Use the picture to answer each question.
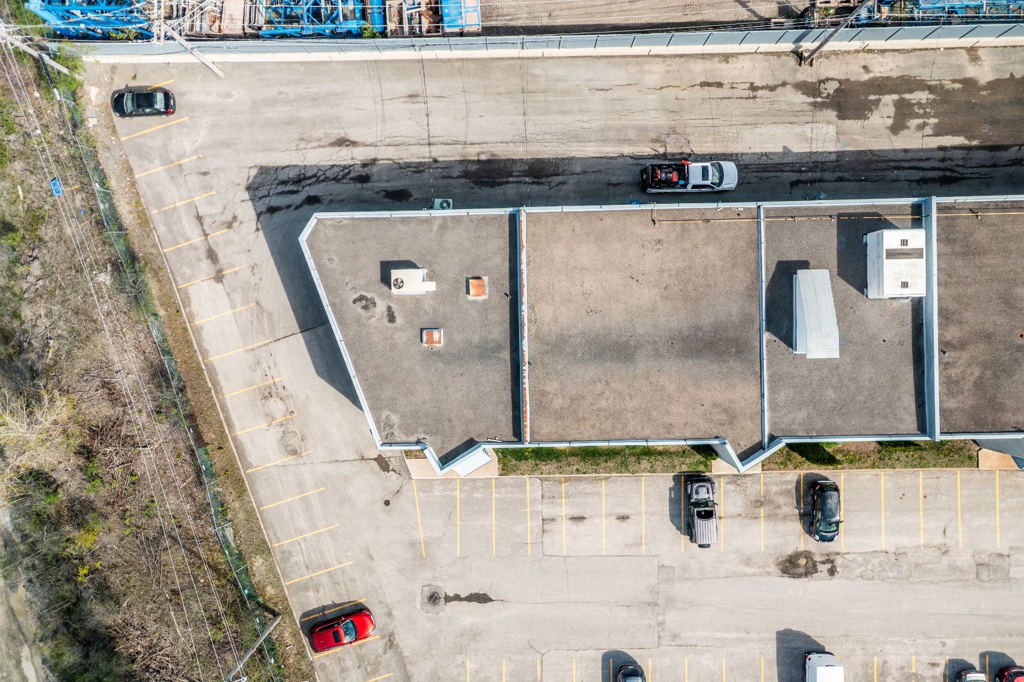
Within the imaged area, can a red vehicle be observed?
Yes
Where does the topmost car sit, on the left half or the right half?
left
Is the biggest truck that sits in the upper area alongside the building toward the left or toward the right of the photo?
right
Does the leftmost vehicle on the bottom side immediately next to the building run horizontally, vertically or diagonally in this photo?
vertically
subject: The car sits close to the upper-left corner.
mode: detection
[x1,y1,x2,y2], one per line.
[114,87,179,119]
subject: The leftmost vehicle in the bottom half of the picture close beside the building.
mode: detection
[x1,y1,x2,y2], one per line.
[683,476,719,549]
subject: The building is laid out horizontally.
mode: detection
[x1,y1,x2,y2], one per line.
[299,195,1024,476]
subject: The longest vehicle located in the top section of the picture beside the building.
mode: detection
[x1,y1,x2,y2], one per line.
[635,157,738,194]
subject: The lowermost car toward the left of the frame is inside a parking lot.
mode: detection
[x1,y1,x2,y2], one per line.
[308,608,379,656]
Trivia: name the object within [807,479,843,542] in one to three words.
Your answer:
car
